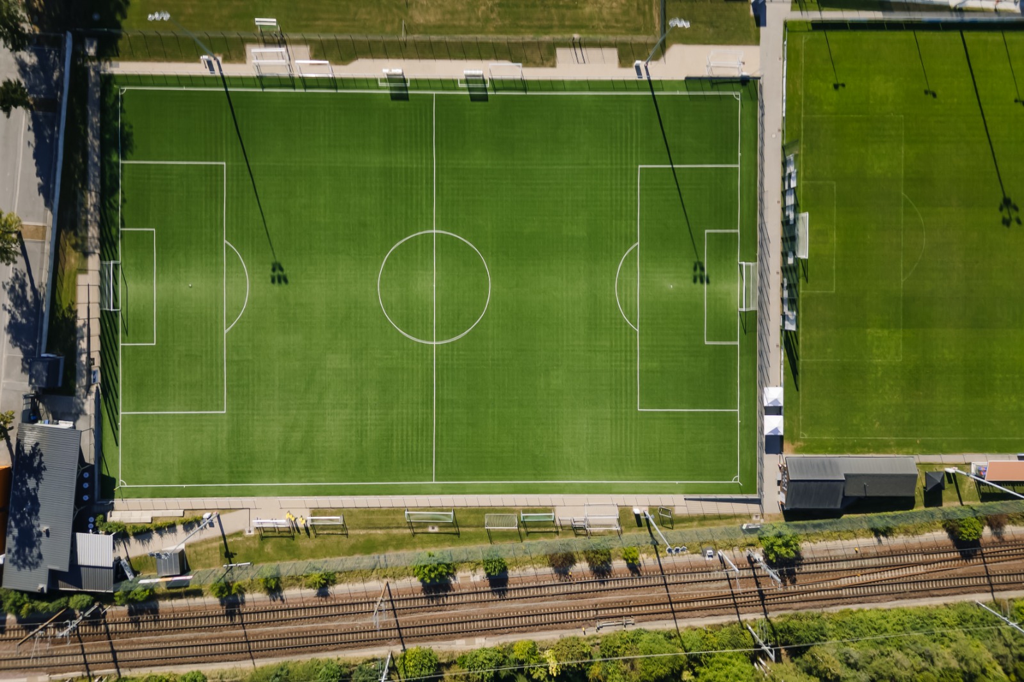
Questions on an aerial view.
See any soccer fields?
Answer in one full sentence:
Yes, the frame does contain a soccer field.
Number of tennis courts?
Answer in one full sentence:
There are no tennis courts in this view.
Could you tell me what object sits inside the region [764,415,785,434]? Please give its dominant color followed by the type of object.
white tent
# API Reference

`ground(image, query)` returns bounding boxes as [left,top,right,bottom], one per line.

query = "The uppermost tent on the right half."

[763,386,785,405]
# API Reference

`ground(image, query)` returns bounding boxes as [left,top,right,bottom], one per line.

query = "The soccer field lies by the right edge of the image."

[781,20,1024,456]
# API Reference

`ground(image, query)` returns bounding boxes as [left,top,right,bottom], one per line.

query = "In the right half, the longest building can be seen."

[782,455,918,509]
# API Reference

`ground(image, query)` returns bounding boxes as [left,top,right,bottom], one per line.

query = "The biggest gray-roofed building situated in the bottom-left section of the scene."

[1,422,95,593]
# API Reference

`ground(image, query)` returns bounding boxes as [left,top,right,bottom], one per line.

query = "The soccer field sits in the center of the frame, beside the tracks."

[101,76,757,497]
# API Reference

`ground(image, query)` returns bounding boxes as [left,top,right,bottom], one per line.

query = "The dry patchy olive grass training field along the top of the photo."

[125,0,662,40]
